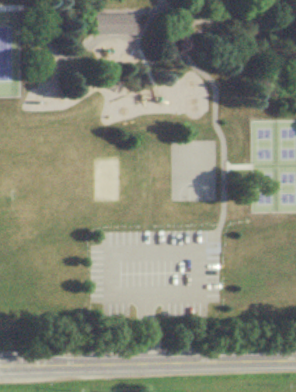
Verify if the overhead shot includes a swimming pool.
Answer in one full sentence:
No, there isn't any swimming pool down there.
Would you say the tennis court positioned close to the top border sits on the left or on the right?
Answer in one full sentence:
It is on the left.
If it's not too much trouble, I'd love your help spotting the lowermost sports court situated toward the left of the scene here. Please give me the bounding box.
[94,158,119,202]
